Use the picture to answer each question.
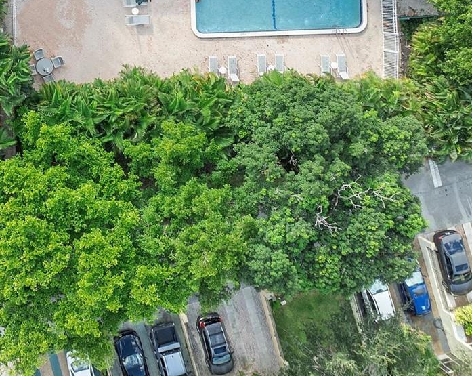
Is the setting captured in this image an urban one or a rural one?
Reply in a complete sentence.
From above, the setting appears rural.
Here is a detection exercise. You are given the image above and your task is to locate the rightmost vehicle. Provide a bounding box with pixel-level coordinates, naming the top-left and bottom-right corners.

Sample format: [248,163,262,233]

[429,225,472,294]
